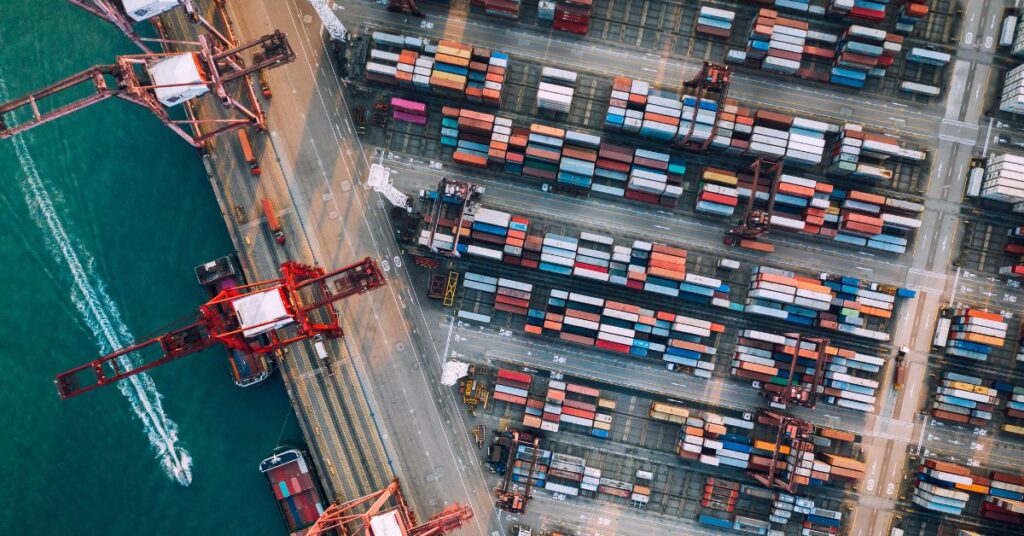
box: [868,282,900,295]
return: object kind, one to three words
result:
vehicle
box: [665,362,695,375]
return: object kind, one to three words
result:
vehicle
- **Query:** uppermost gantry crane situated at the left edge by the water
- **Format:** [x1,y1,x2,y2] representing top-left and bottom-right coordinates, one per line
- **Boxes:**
[38,0,238,73]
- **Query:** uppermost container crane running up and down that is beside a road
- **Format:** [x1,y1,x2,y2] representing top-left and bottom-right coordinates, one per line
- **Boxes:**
[675,63,731,152]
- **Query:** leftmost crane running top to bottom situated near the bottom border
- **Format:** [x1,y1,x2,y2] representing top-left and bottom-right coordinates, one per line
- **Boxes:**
[496,426,543,518]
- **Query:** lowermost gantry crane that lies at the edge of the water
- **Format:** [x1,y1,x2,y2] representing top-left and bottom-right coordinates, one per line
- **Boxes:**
[304,480,482,536]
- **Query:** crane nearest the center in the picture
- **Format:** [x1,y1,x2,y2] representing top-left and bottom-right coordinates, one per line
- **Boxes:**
[427,179,478,259]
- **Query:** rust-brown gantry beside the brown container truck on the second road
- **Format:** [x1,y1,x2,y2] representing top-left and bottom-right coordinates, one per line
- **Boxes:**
[723,156,784,241]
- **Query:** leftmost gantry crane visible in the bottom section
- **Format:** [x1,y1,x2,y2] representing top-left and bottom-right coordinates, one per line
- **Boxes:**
[55,252,387,404]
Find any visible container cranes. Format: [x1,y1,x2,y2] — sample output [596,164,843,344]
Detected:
[427,179,478,259]
[38,0,238,73]
[761,328,827,411]
[0,16,299,160]
[55,252,387,404]
[723,156,784,241]
[744,406,808,496]
[675,63,731,152]
[496,426,543,518]
[304,480,482,536]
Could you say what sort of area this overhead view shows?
port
